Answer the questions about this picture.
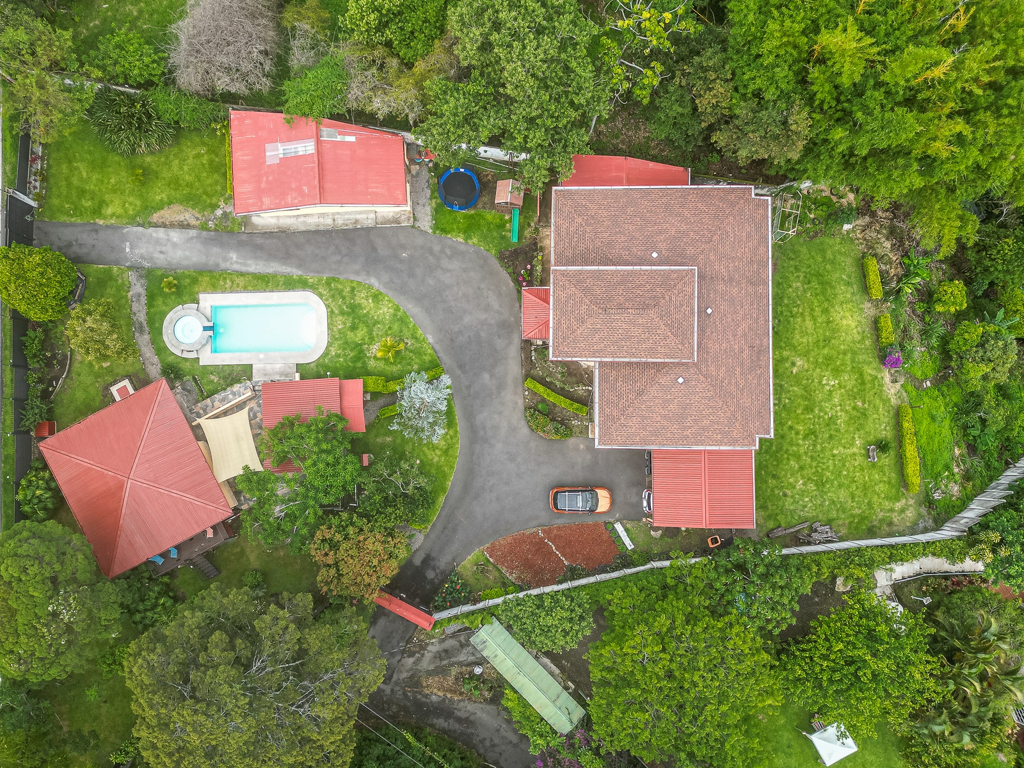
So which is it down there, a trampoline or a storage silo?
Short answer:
trampoline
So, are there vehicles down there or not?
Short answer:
Yes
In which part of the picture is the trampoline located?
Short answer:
top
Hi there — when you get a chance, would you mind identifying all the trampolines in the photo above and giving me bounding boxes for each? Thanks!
[436,161,482,218]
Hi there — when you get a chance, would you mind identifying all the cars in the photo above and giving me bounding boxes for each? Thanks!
[643,450,651,475]
[641,486,652,514]
[547,483,612,517]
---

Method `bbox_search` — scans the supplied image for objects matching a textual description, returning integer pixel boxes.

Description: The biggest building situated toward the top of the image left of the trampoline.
[230,110,413,231]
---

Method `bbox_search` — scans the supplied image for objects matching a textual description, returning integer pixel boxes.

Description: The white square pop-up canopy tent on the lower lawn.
[796,708,858,767]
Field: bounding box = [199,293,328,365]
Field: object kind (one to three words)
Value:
swimming pool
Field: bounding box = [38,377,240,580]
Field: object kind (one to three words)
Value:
building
